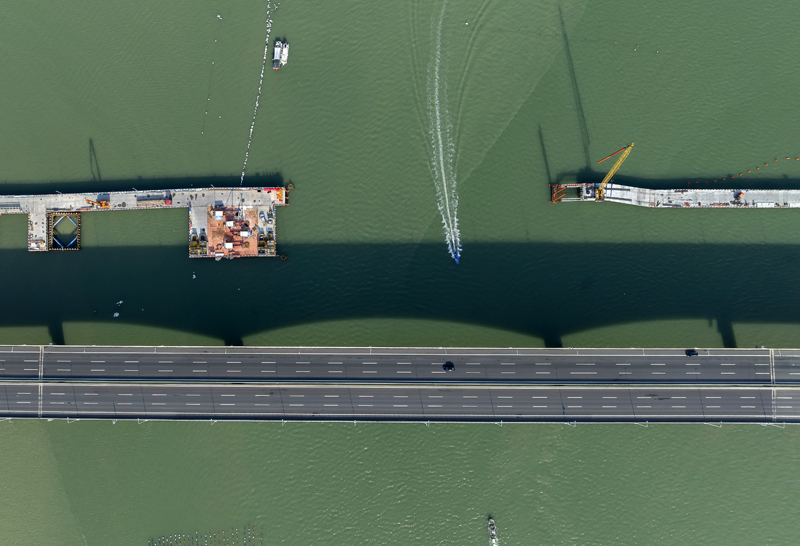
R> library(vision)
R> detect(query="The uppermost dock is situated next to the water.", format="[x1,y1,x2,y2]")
[28,212,49,252]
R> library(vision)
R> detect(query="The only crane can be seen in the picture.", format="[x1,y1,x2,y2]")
[594,143,634,203]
